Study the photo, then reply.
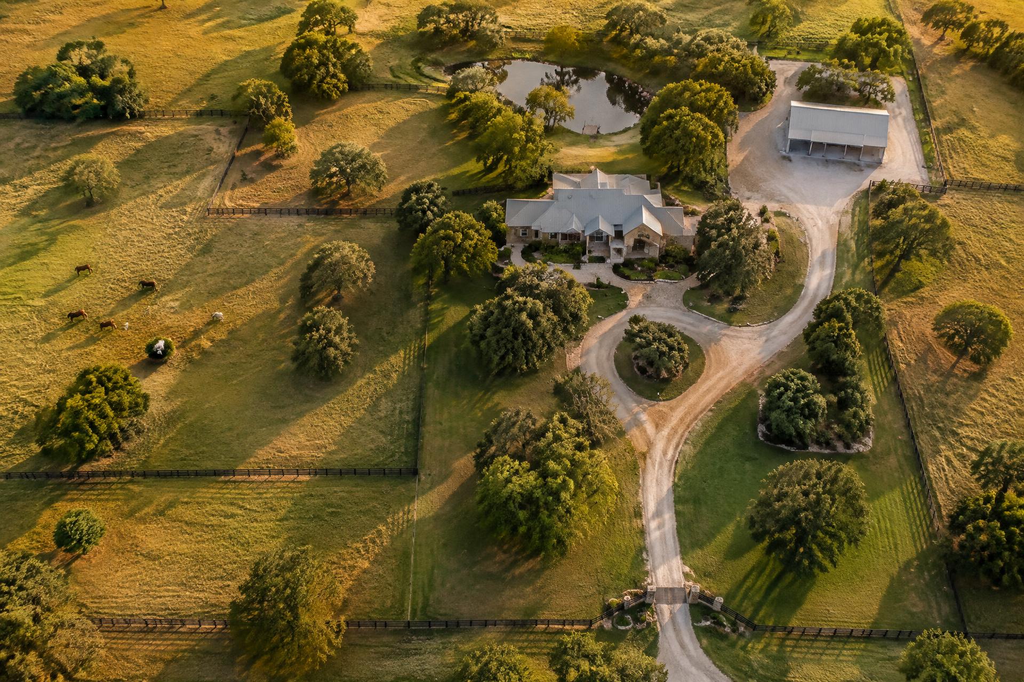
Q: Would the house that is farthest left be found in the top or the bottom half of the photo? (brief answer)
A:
top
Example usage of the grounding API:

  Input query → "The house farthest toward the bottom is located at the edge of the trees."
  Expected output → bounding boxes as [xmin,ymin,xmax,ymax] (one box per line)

[505,163,696,264]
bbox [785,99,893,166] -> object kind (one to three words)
shed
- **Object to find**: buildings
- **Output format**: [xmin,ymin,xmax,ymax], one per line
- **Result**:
[505,163,696,264]
[785,99,893,166]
